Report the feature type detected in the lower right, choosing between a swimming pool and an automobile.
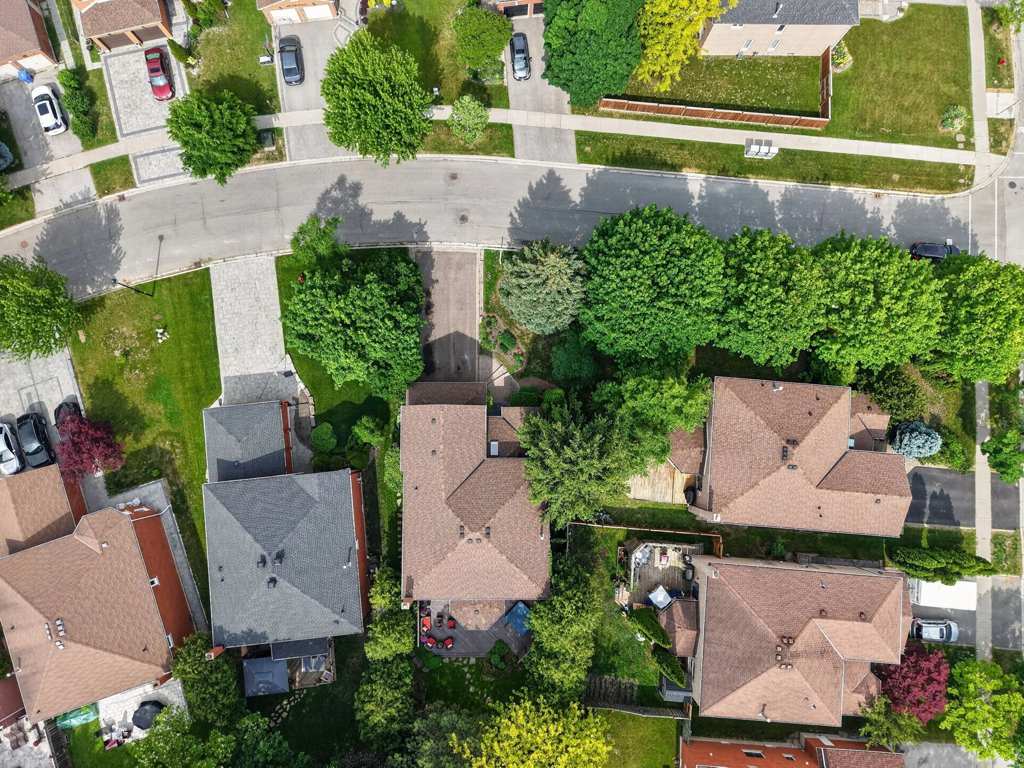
automobile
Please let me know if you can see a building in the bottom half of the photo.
Yes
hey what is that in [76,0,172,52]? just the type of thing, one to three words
house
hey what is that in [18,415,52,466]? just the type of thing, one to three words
car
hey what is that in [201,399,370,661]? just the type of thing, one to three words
house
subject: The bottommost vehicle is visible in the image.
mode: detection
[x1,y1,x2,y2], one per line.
[909,618,960,644]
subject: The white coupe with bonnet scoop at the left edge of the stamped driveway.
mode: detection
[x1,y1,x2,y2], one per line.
[0,422,26,474]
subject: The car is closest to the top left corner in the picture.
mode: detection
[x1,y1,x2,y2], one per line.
[32,87,67,135]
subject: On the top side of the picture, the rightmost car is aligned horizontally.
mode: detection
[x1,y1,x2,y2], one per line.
[909,240,959,264]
